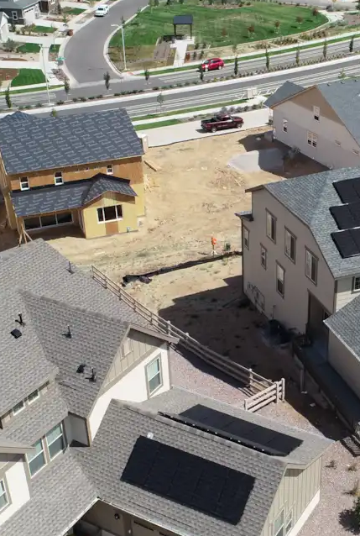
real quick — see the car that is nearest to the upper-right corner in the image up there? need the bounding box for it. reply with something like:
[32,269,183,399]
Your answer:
[200,57,227,71]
